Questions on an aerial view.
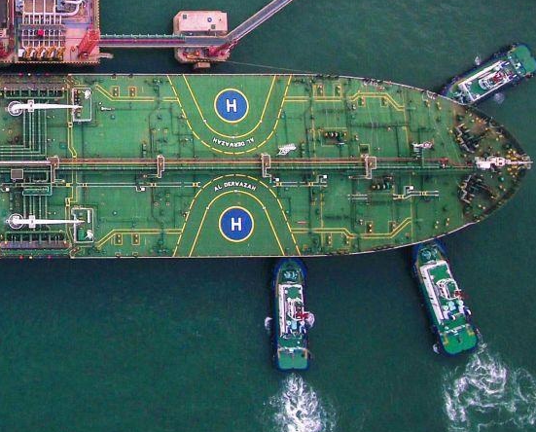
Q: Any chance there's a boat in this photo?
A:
Yes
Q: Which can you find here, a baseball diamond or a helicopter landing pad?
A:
helicopter landing pad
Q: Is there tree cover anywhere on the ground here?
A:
No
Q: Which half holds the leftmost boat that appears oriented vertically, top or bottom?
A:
bottom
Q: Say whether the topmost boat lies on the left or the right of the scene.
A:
right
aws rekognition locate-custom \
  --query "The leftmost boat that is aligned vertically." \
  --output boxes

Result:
[269,256,318,372]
